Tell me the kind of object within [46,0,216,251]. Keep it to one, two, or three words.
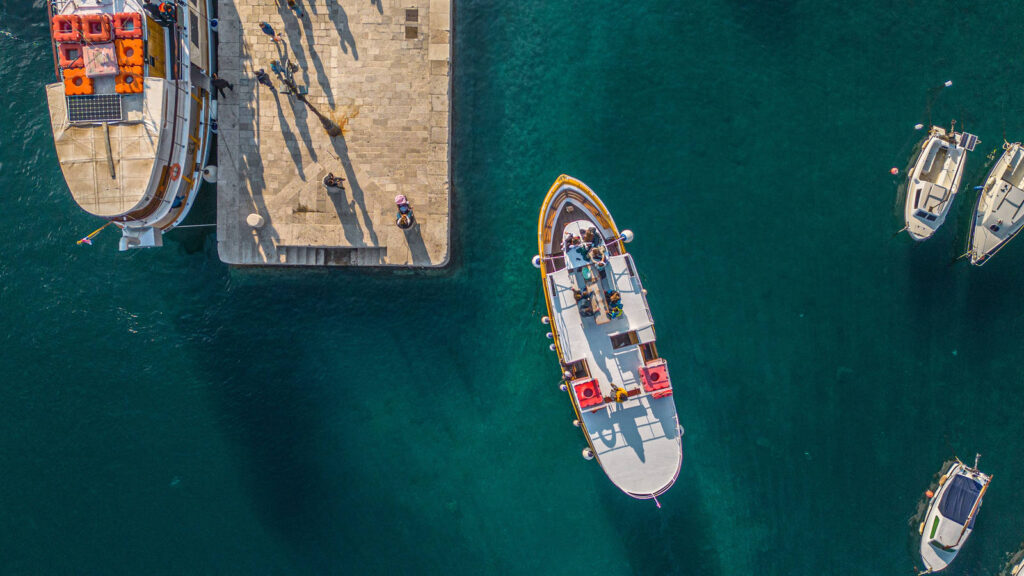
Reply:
ship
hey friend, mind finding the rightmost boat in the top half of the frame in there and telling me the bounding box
[968,141,1024,267]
